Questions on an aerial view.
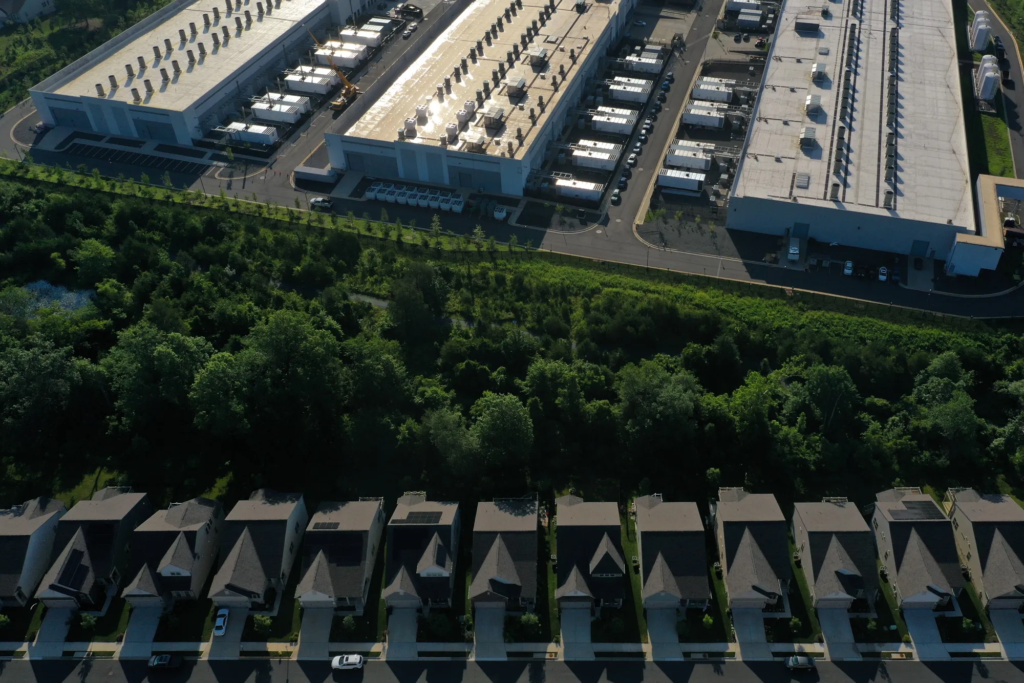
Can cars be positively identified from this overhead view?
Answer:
Yes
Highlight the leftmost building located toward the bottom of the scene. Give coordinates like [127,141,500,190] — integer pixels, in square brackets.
[0,488,77,612]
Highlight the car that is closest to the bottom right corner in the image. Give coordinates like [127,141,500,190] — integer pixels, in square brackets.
[785,656,817,671]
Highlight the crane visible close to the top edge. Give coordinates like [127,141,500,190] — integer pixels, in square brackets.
[303,24,363,109]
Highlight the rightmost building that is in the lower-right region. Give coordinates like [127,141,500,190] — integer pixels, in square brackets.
[937,489,1024,610]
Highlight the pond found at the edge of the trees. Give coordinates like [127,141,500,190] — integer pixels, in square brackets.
[17,280,95,313]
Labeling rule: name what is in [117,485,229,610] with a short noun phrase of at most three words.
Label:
house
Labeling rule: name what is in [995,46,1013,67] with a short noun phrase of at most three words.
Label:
vehicle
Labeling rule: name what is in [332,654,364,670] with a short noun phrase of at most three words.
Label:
car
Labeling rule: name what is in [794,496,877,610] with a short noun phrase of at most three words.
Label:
house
